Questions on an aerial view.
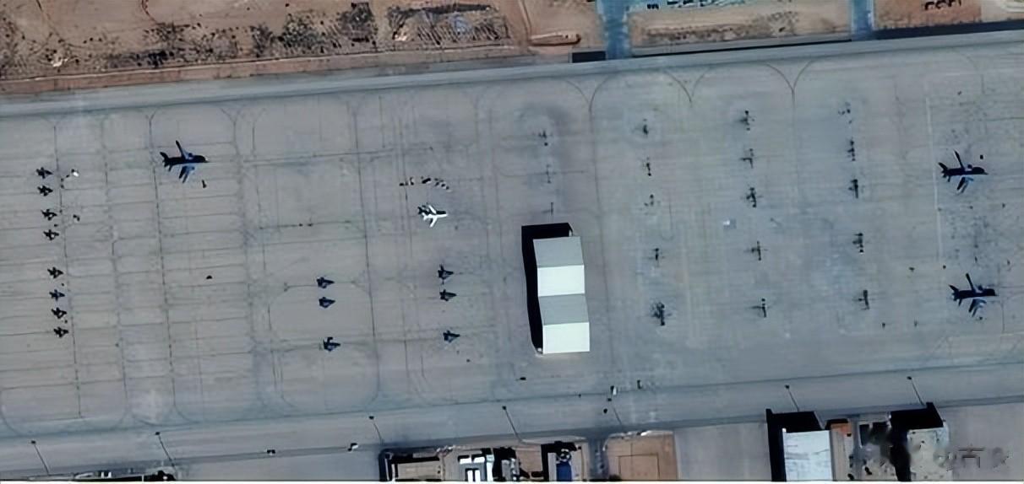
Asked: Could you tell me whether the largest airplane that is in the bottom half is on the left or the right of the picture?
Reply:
right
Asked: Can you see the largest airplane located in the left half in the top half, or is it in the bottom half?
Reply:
top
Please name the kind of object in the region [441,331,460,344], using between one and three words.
airplane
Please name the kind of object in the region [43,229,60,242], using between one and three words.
airplane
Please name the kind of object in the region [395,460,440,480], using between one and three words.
building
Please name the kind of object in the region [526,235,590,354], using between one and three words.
hangar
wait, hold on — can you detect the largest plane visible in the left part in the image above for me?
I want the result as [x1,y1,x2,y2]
[165,142,207,183]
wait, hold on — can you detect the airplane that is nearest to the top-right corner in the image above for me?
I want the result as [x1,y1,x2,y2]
[948,155,984,193]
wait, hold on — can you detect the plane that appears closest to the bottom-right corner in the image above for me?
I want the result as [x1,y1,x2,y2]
[958,277,994,315]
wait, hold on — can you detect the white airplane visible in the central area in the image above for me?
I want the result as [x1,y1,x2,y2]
[422,203,447,227]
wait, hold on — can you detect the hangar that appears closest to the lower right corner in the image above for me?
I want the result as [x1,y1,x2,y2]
[898,425,952,484]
